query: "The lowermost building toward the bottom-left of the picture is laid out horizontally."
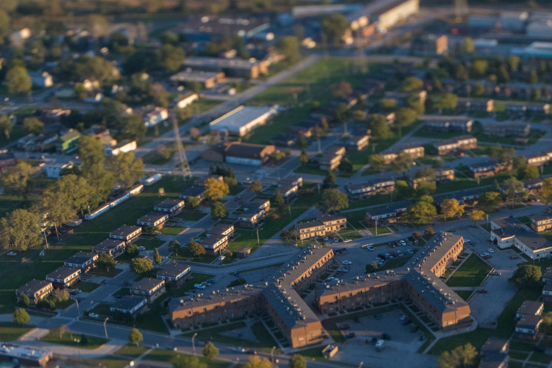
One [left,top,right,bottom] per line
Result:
[0,341,55,368]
